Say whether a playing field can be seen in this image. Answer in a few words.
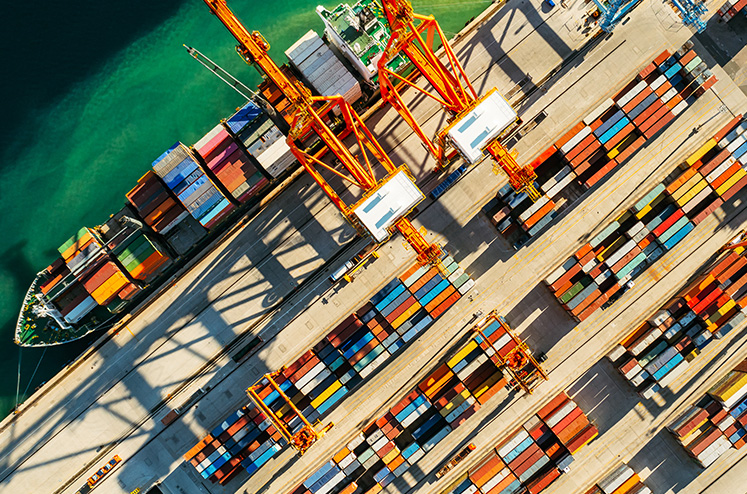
No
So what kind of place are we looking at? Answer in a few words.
port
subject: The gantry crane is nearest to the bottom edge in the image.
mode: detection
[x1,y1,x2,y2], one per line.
[247,369,335,456]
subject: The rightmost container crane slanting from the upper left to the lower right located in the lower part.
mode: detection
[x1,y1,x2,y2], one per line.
[467,313,550,396]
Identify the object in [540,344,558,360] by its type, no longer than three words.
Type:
vehicle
